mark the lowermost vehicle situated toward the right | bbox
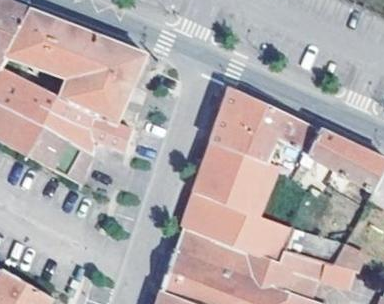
[322,62,336,78]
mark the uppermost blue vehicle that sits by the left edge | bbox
[8,161,24,186]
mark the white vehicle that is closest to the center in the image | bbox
[144,122,168,138]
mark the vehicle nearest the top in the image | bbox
[348,10,360,31]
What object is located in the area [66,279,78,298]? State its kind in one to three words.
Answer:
vehicle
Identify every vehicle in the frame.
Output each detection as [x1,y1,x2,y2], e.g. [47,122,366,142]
[66,279,78,298]
[6,242,23,268]
[42,257,56,281]
[76,197,91,219]
[20,247,36,272]
[62,190,77,214]
[348,10,360,31]
[8,161,24,186]
[44,177,58,198]
[300,43,318,72]
[134,145,158,158]
[90,170,114,185]
[21,169,35,190]
[72,264,84,282]
[322,62,336,78]
[144,122,168,138]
